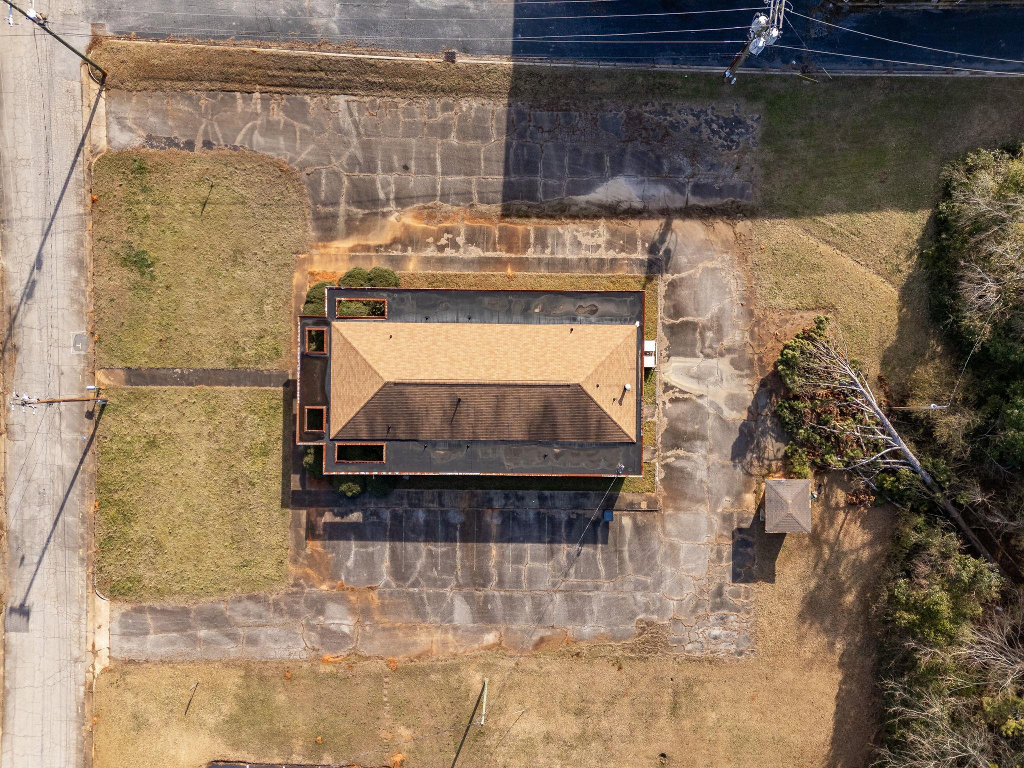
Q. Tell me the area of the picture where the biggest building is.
center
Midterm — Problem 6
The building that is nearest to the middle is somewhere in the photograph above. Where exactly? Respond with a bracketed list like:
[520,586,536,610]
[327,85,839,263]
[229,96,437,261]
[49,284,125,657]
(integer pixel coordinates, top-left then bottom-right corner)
[297,288,644,477]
